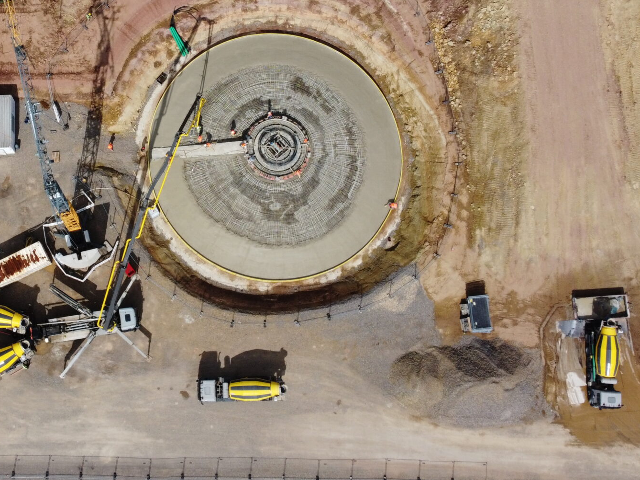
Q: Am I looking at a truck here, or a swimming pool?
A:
truck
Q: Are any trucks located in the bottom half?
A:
Yes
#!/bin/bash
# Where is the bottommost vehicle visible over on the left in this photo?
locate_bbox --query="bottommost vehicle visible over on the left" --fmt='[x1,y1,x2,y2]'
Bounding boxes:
[195,373,287,406]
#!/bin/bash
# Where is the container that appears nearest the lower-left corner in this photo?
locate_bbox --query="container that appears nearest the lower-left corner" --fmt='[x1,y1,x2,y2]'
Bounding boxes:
[0,243,51,286]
